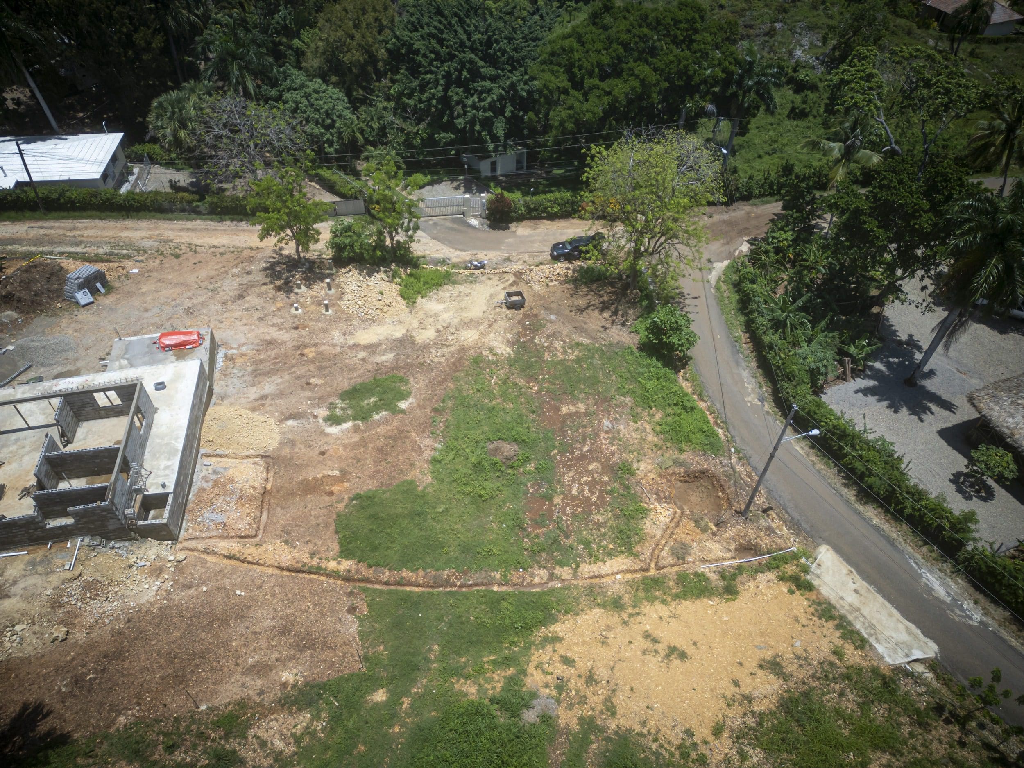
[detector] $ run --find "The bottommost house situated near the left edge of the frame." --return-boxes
[0,321,218,556]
